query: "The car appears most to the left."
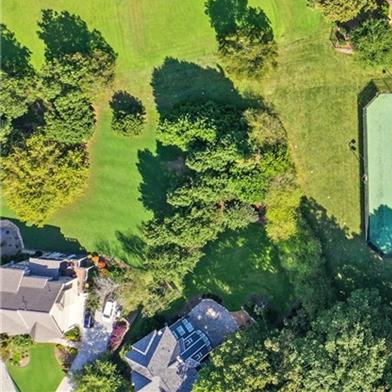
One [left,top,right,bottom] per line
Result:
[82,306,95,329]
